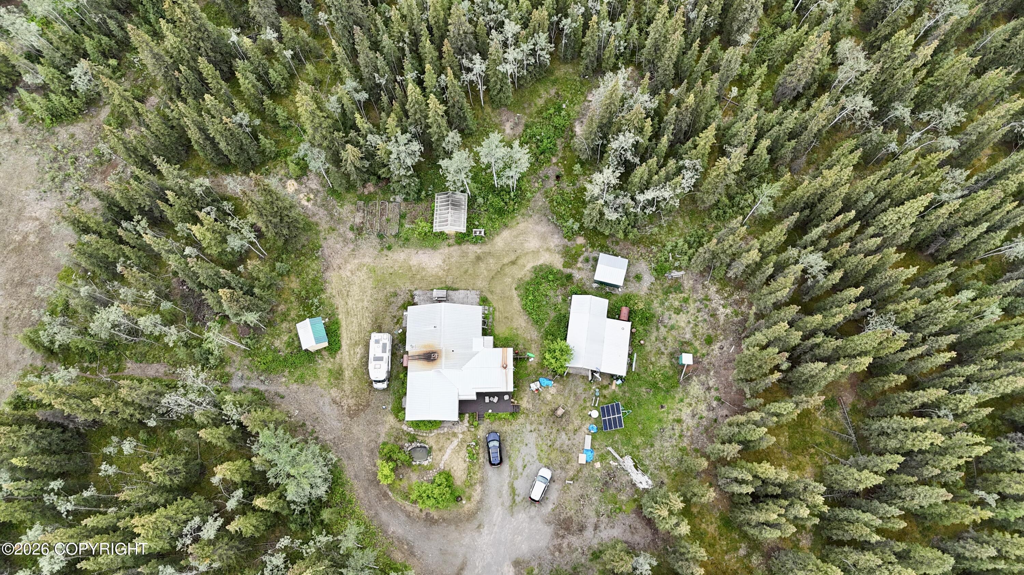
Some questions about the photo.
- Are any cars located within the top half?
No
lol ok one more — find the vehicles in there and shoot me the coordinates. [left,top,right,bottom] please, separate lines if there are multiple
[486,432,503,468]
[529,467,551,505]
[370,332,394,391]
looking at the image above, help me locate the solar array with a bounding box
[600,400,632,432]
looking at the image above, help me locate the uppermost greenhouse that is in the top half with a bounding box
[434,190,467,242]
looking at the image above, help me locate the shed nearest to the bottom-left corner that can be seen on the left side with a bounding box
[296,316,330,354]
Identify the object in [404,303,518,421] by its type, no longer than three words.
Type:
house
